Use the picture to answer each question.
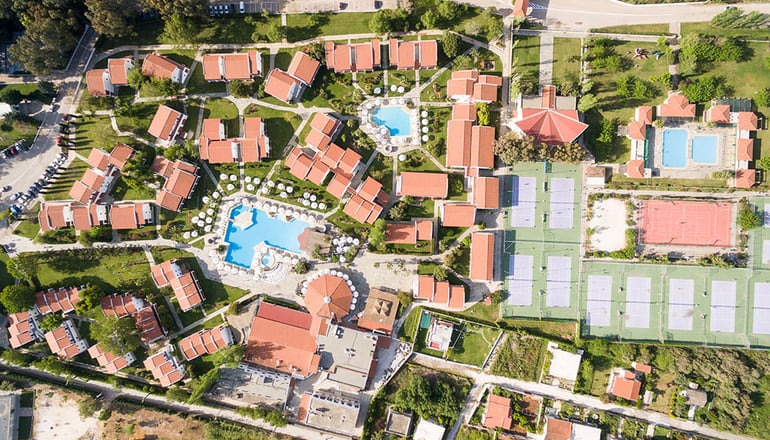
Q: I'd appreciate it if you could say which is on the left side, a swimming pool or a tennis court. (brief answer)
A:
swimming pool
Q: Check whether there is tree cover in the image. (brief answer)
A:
Yes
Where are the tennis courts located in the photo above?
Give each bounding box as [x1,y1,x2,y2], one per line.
[542,162,582,244]
[580,261,622,340]
[750,233,770,271]
[751,197,770,234]
[539,243,580,321]
[620,262,662,342]
[504,161,544,243]
[662,265,705,344]
[747,270,770,347]
[502,241,541,320]
[704,267,749,346]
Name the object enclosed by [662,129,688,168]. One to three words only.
swimming pool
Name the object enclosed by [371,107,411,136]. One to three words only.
swimming pool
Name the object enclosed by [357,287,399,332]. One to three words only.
building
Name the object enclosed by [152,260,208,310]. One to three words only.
house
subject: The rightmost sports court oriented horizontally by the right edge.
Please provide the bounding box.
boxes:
[644,200,732,247]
